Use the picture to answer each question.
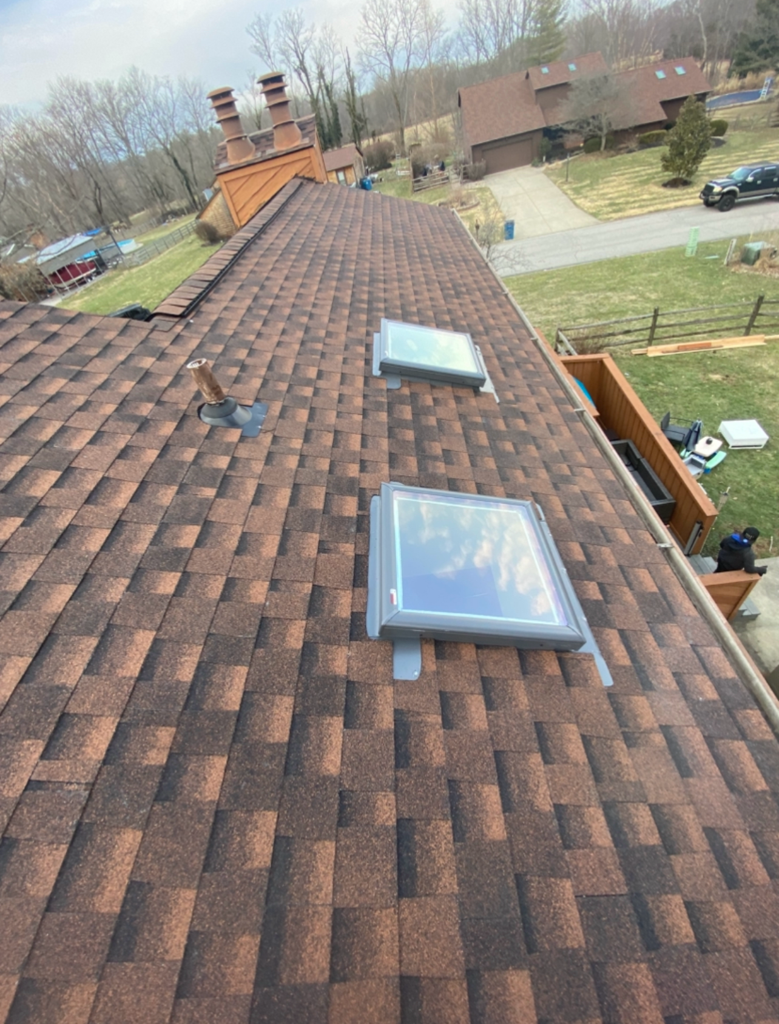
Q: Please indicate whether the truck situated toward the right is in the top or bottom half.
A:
top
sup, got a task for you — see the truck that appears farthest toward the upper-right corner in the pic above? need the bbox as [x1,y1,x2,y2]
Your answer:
[699,155,779,212]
